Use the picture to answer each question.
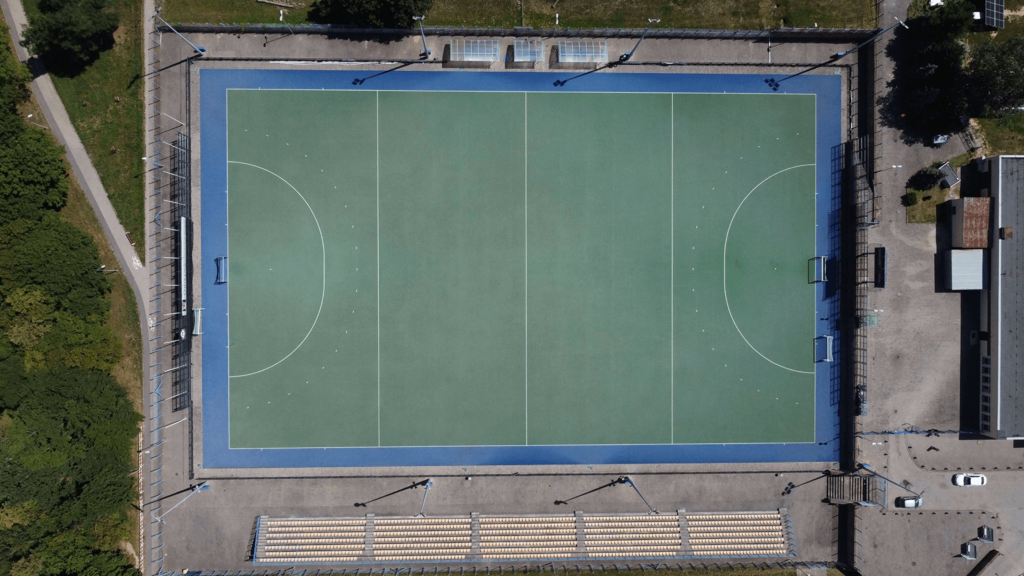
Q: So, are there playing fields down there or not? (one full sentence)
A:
Yes, the frame does contain a playing field.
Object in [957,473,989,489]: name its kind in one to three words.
car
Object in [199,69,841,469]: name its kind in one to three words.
sports field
